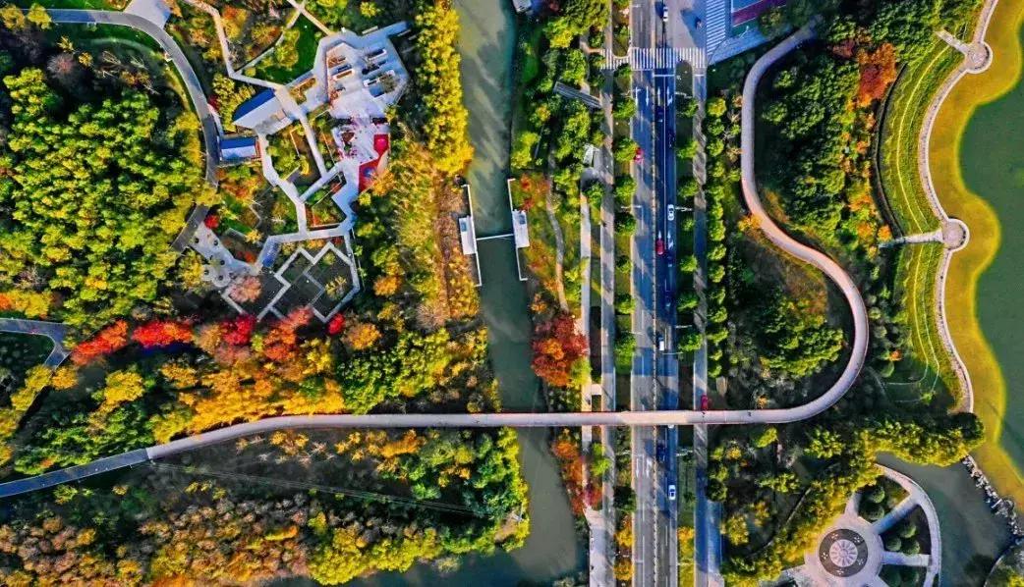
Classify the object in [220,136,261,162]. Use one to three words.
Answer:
building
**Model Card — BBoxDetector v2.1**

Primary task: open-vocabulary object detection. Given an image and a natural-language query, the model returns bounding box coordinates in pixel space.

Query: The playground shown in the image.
[360,134,390,192]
